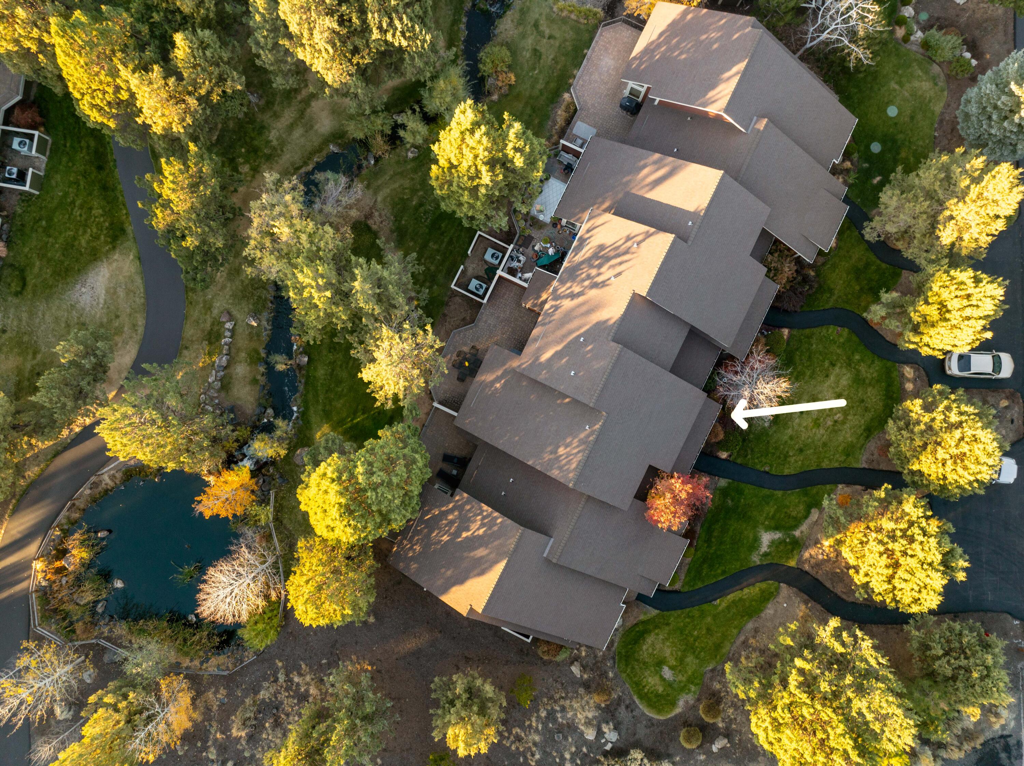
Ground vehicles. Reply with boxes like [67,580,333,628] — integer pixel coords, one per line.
[998,455,1021,485]
[939,350,1011,380]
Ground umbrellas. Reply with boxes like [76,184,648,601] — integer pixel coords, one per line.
[536,252,564,268]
